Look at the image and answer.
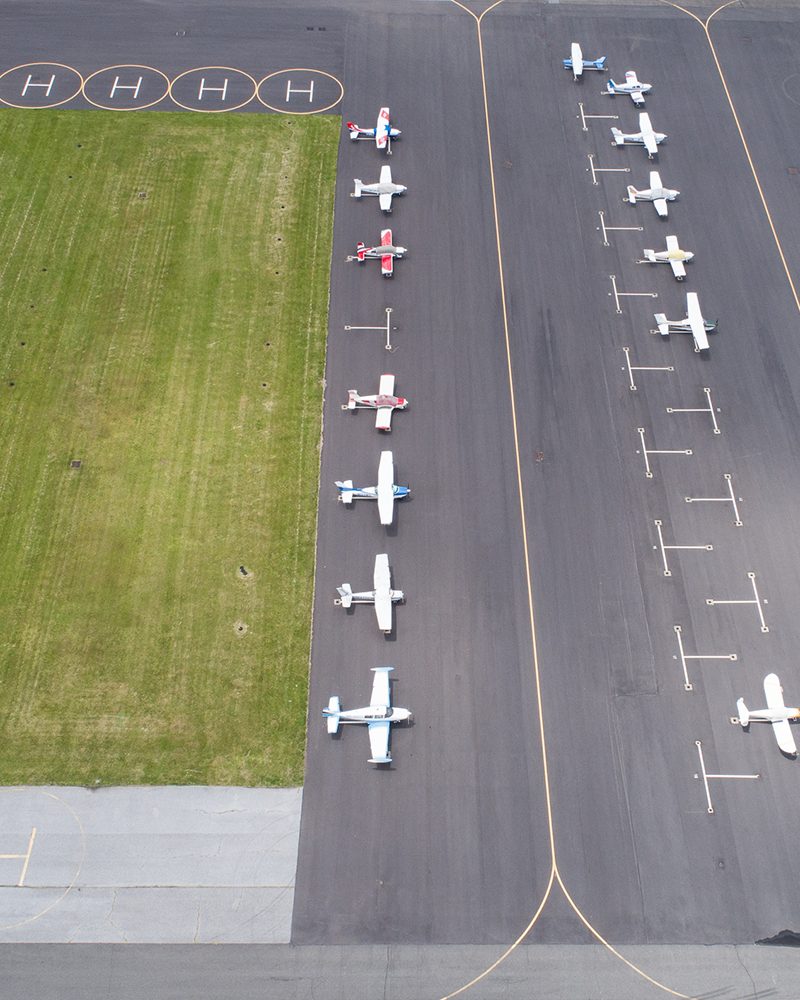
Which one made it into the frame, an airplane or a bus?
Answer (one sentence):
This aerial view contains an airplane.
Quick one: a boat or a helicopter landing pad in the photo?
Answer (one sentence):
The image shows a helicopter landing pad.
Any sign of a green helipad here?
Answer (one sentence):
No, there appears to be no green helipad in this shot.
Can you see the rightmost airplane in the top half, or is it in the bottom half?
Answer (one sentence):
The bottom half of the photo is where the rightmost airplane is.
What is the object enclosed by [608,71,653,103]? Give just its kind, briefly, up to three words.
airplane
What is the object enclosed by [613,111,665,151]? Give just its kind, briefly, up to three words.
airplane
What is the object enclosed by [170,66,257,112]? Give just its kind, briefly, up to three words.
helipad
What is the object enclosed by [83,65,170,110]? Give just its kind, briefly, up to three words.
helipad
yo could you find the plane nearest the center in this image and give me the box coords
[337,451,410,523]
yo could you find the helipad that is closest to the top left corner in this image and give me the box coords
[0,63,84,108]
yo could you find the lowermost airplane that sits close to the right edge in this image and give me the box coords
[734,673,800,753]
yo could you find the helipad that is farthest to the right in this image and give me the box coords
[257,68,344,113]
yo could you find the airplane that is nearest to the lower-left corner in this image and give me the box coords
[322,668,410,763]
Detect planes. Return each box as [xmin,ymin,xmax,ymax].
[626,171,679,216]
[734,673,800,753]
[608,71,653,103]
[335,554,405,630]
[646,235,695,276]
[656,292,718,349]
[355,166,406,211]
[337,451,410,523]
[356,229,408,273]
[347,107,401,147]
[563,42,607,74]
[322,668,410,763]
[613,111,665,151]
[348,375,407,430]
